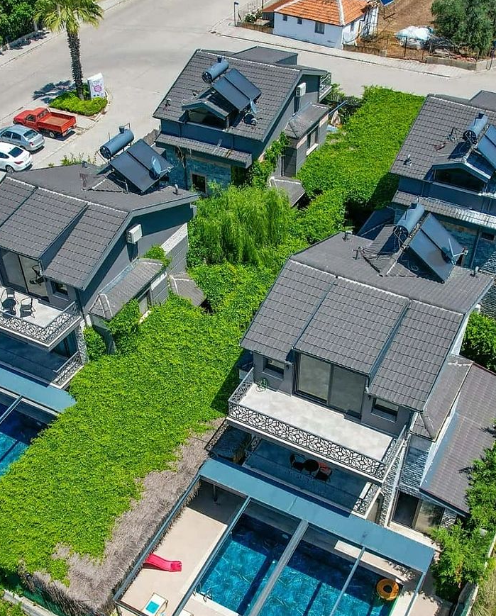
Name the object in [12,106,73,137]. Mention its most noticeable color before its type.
red truck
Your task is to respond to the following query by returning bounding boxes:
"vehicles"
[12,106,73,137]
[0,123,44,152]
[0,144,31,173]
